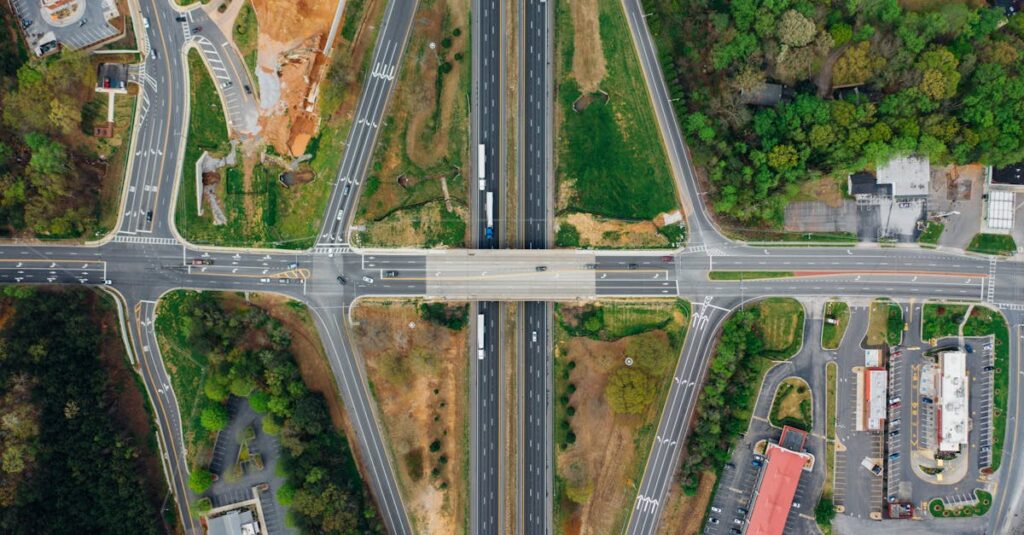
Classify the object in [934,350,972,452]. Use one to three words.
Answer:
building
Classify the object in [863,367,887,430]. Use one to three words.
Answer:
building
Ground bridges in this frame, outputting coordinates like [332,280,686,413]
[424,249,597,301]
